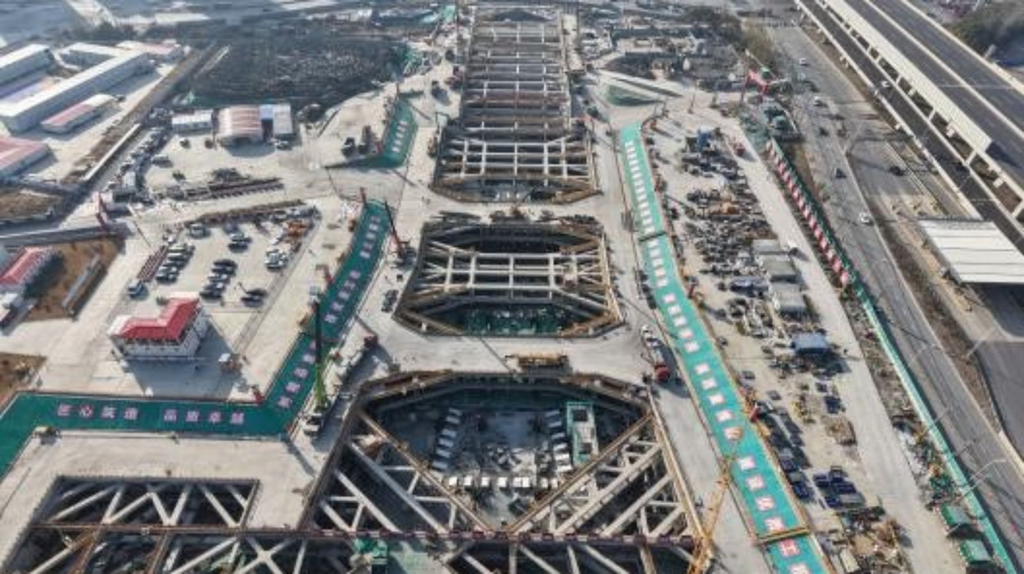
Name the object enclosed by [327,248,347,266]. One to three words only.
work vehicle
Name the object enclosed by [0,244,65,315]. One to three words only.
building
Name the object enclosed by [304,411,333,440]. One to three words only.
truck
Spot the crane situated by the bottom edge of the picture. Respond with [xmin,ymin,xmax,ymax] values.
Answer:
[685,440,737,574]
